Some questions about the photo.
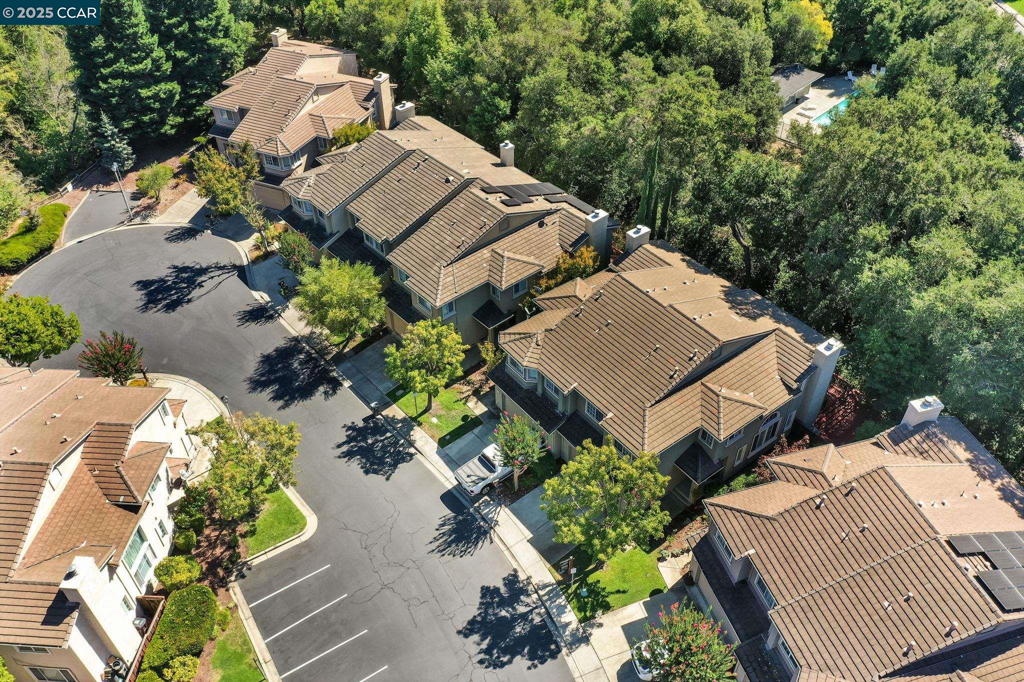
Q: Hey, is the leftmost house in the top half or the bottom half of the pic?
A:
bottom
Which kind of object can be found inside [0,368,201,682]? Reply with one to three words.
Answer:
house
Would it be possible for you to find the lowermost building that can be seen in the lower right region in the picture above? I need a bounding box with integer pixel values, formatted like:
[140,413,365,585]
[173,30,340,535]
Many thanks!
[683,385,1024,682]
